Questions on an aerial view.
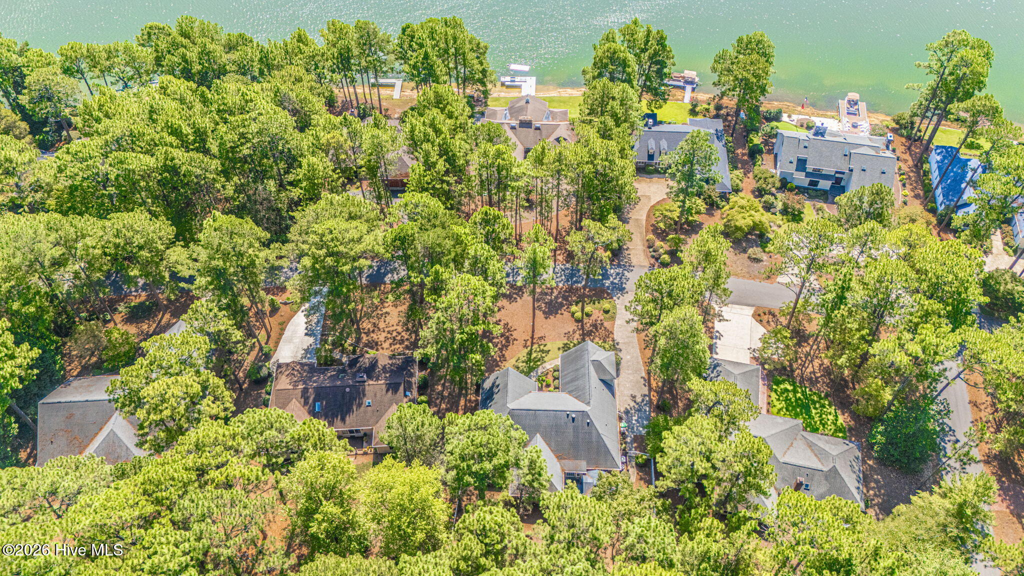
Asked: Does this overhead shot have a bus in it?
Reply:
No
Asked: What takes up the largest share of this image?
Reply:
trees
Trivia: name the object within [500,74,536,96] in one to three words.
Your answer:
pier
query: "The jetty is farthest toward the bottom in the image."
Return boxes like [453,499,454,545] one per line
[838,98,870,136]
